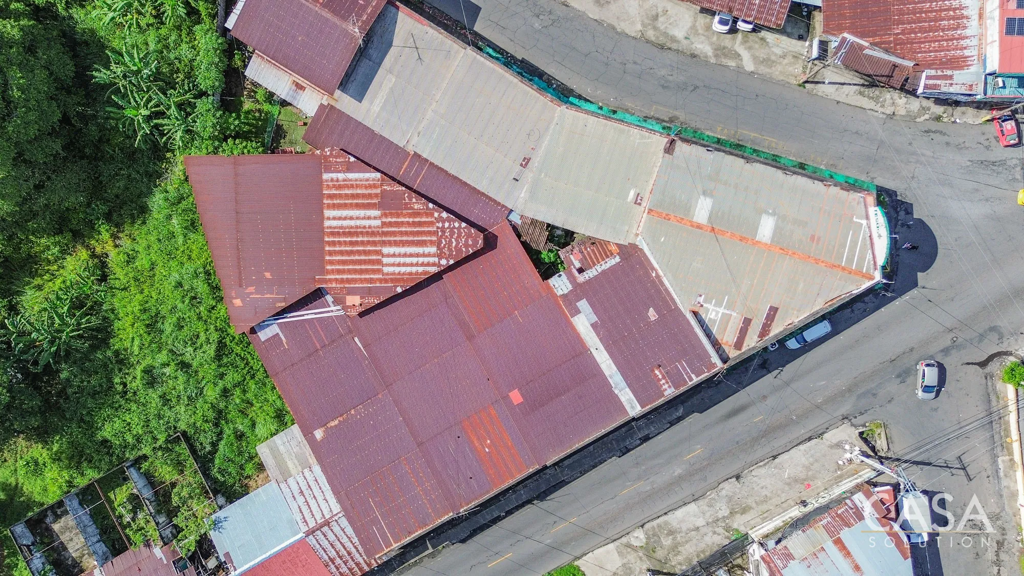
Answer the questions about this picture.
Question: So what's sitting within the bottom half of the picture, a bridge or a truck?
truck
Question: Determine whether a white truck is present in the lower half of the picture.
Yes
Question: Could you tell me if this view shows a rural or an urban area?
urban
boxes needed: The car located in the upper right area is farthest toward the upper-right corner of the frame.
[992,108,1022,152]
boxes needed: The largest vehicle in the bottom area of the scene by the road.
[894,490,931,546]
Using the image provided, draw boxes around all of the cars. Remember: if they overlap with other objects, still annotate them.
[1019,190,1024,206]
[992,108,1022,152]
[709,10,732,37]
[783,318,833,351]
[914,359,940,401]
[738,18,757,34]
